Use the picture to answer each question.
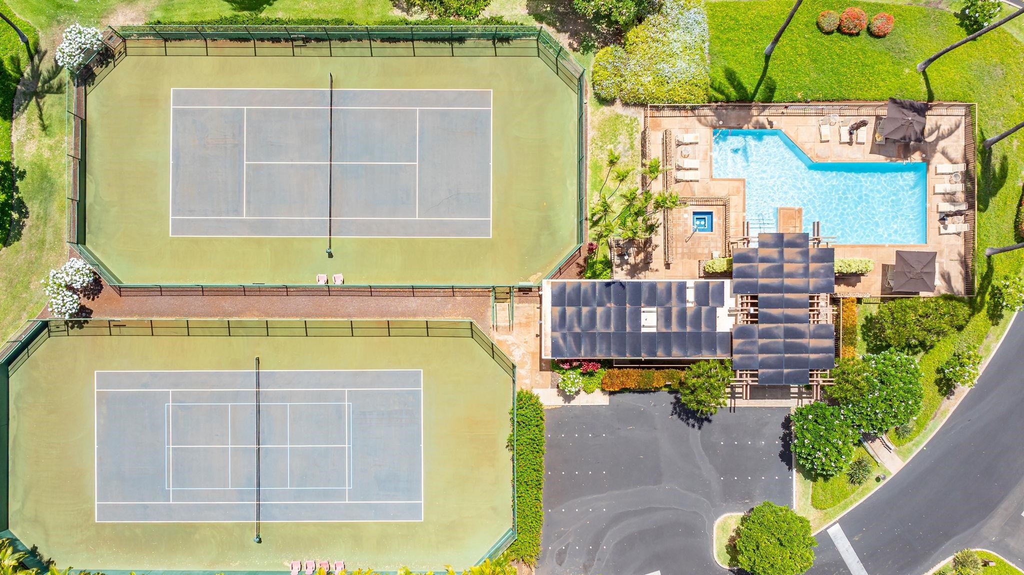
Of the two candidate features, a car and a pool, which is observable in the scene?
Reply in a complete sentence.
The one in the frame is a pool.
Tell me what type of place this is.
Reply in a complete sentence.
What you see here is a sports ground.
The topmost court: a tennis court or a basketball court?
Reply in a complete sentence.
What you see as the topmost court is a tennis court.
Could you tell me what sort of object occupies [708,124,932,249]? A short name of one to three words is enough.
swimming pool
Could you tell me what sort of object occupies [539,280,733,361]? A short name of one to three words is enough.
building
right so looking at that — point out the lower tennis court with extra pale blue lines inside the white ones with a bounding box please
[8,321,512,570]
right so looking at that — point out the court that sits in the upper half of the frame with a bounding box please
[85,39,578,284]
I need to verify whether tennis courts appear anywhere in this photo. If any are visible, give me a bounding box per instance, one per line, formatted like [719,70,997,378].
[85,39,578,284]
[8,321,512,570]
